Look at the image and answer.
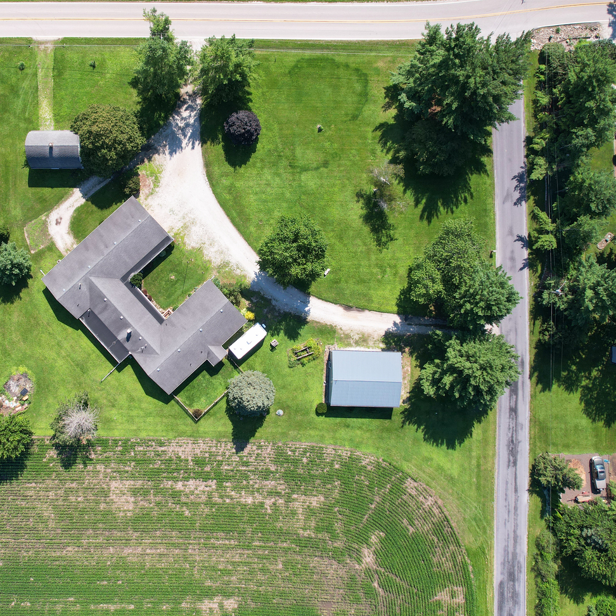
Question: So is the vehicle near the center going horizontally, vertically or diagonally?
diagonally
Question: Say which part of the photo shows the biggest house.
left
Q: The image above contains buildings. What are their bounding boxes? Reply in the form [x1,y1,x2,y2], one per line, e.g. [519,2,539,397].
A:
[24,130,82,170]
[330,350,402,407]
[40,195,249,395]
